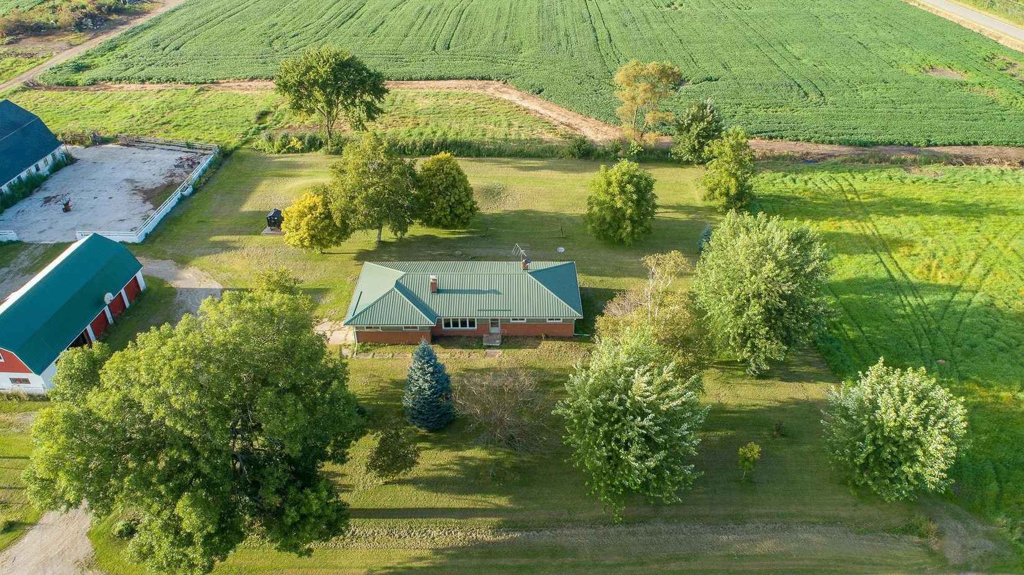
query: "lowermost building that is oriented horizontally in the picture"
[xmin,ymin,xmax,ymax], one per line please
[344,258,594,354]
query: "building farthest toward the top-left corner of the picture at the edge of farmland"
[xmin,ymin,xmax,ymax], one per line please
[0,97,68,210]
